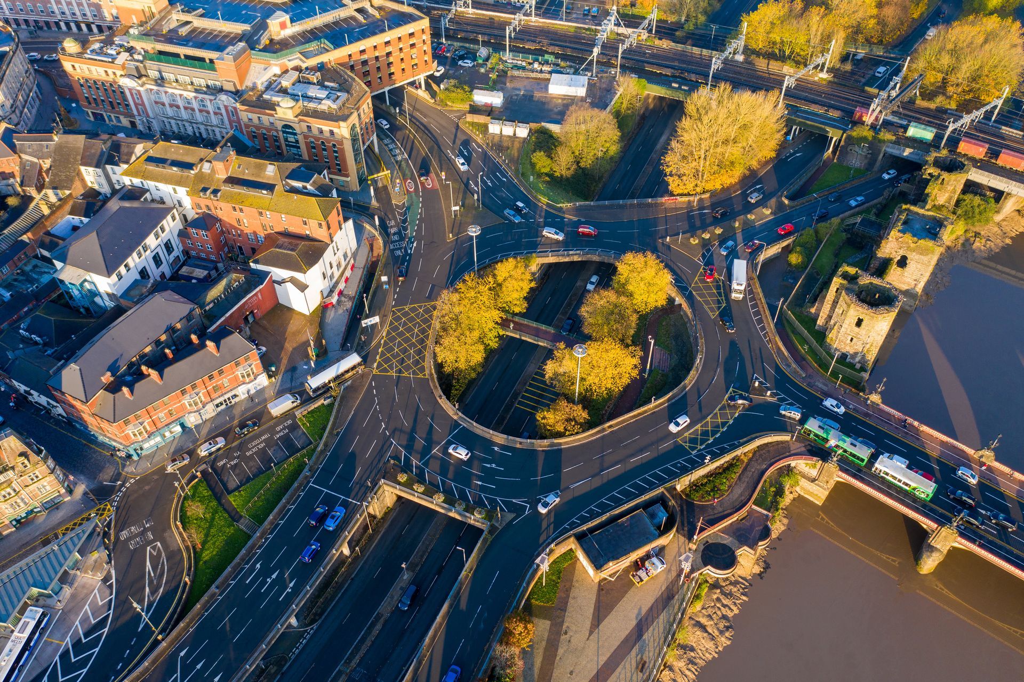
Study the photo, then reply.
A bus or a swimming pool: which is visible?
bus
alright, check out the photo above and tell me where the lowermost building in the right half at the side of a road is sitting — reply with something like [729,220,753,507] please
[570,496,679,585]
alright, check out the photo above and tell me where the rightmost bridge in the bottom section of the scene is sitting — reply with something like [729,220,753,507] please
[800,375,1024,582]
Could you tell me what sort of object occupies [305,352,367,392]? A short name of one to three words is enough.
bus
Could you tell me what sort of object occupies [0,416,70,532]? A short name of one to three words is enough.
building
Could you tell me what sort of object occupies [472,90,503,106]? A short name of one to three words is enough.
shed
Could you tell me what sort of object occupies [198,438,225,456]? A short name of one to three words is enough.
car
